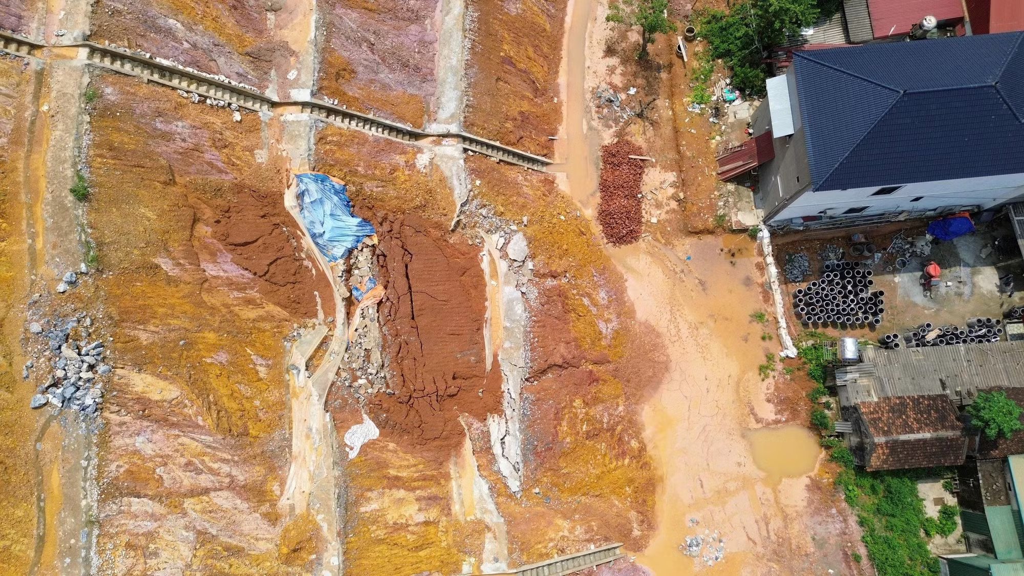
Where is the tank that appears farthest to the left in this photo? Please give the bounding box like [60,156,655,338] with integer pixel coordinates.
[829,337,858,365]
